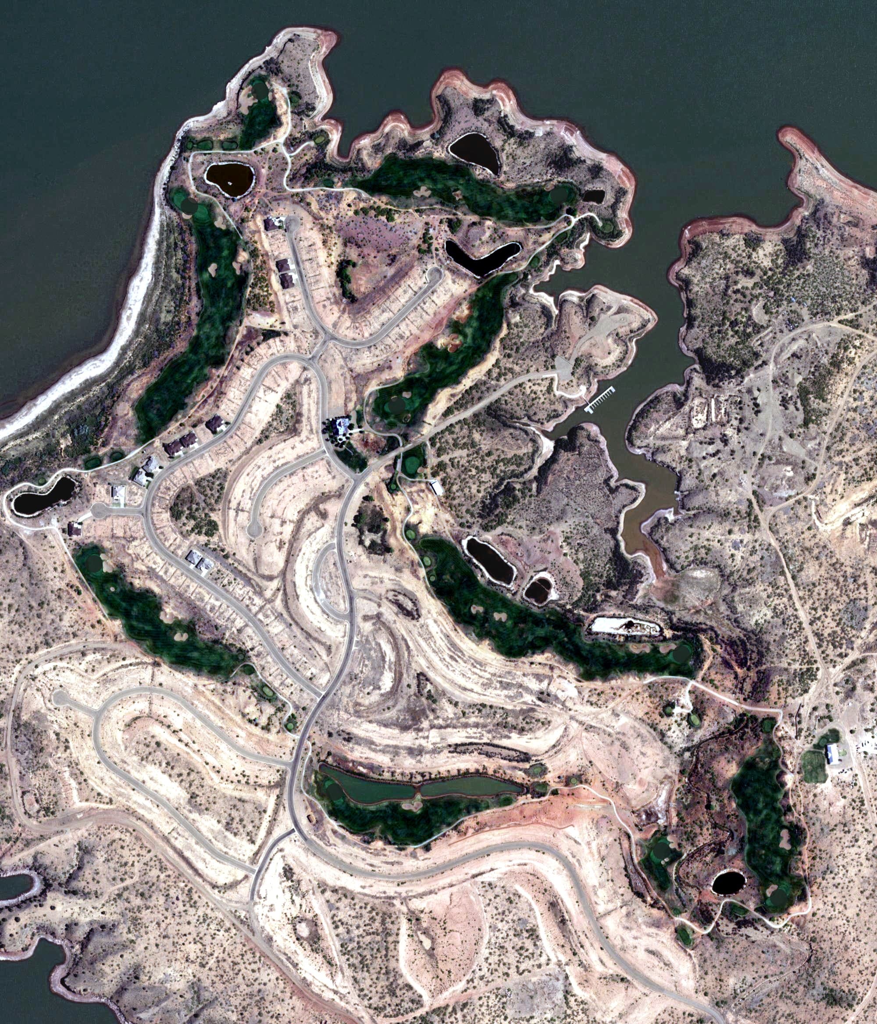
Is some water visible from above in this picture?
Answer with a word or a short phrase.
Yes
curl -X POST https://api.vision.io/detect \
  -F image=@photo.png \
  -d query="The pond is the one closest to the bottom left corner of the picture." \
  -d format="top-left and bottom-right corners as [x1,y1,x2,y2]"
[319,764,416,805]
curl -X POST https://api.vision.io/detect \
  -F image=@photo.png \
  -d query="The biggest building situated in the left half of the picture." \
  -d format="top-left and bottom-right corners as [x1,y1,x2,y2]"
[332,417,350,439]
